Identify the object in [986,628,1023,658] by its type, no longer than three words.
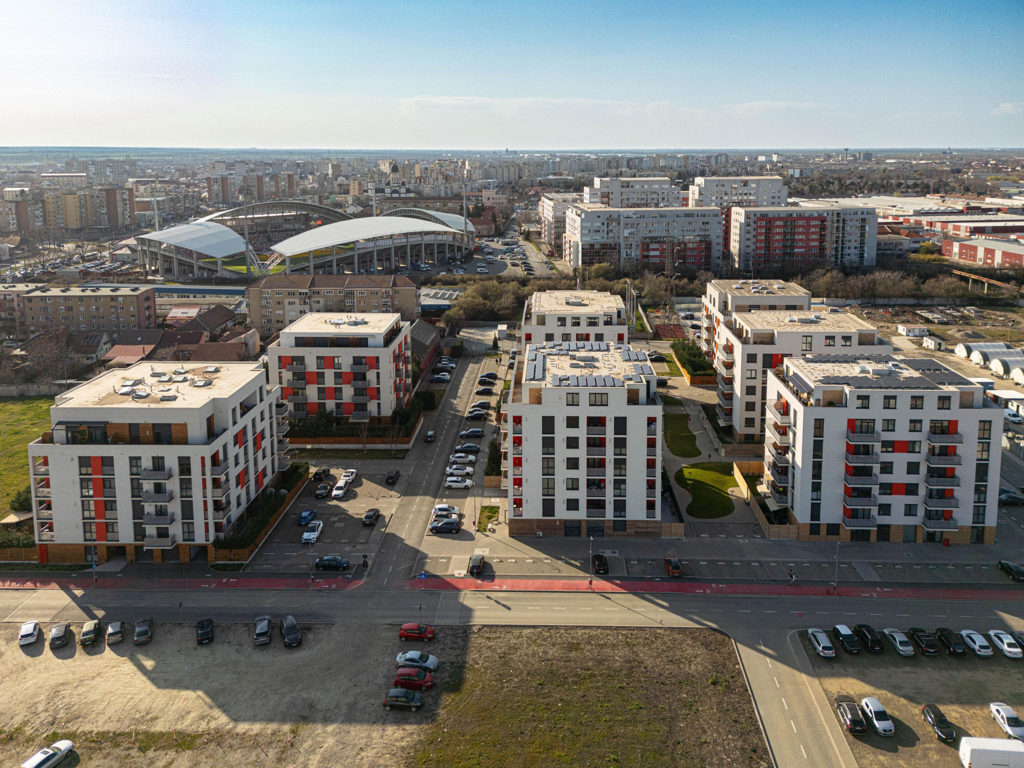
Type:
car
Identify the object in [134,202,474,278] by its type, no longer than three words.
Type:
stadium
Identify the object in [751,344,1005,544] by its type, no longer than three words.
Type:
building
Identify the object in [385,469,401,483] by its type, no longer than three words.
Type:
car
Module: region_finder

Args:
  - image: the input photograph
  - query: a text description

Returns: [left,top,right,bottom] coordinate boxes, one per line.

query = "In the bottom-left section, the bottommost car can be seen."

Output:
[17,737,81,768]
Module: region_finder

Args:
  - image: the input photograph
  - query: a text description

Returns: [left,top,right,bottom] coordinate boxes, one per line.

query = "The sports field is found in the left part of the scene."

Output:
[180,244,393,271]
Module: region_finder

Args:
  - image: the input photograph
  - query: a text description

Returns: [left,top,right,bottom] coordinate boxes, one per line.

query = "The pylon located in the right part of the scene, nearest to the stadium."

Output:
[659,234,685,315]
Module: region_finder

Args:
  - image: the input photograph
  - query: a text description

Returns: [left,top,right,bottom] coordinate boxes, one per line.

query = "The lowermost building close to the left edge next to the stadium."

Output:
[29,362,296,562]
